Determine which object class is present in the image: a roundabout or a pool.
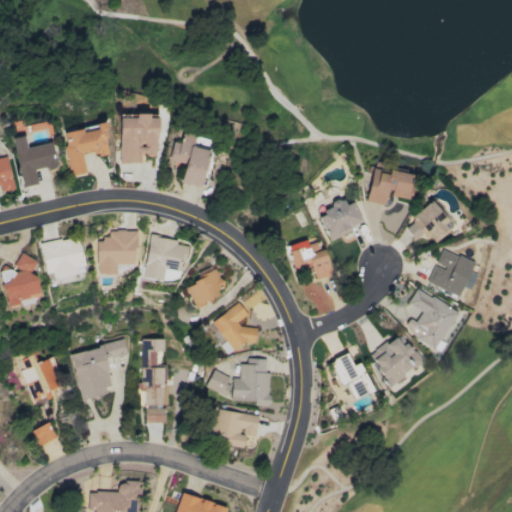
pool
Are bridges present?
No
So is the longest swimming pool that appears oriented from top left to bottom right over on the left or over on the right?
right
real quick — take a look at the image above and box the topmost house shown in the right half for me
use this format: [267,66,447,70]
[370,167,416,204]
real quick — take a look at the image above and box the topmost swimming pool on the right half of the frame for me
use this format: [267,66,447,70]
[323,168,346,182]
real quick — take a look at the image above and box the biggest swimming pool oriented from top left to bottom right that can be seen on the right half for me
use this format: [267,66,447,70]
[435,189,460,214]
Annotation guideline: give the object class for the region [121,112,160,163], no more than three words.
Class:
house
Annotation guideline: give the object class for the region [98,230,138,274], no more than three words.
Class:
house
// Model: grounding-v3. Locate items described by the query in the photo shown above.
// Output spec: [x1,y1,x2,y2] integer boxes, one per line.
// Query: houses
[70,339,128,400]
[0,253,44,308]
[214,412,259,449]
[138,340,168,424]
[374,338,422,386]
[214,303,260,356]
[0,155,14,194]
[206,370,232,399]
[321,202,367,244]
[98,230,138,274]
[121,112,160,163]
[188,270,228,306]
[88,481,142,512]
[168,134,212,188]
[336,354,376,401]
[232,358,270,403]
[409,202,454,241]
[176,494,229,512]
[40,240,88,286]
[407,289,460,352]
[428,248,478,294]
[144,234,190,280]
[370,167,416,204]
[292,240,336,281]
[21,355,62,402]
[66,123,112,176]
[14,136,59,187]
